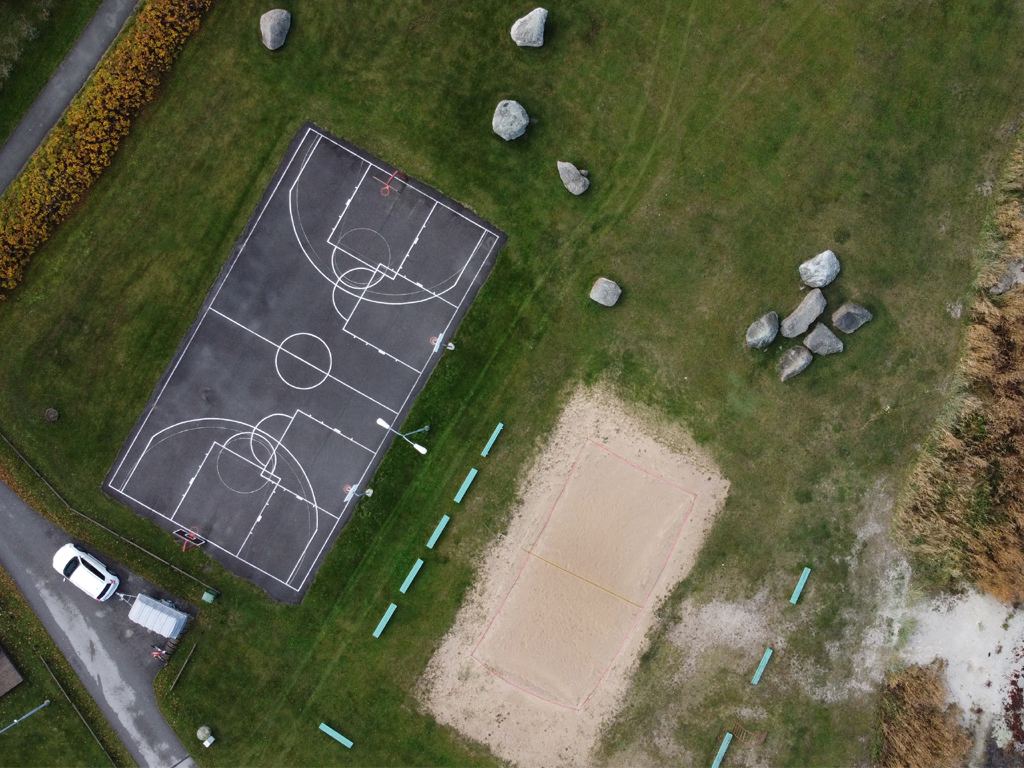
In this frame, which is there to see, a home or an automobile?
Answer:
automobile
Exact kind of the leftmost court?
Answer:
basketball court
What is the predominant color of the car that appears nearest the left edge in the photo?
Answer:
white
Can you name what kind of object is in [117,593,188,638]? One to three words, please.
trailer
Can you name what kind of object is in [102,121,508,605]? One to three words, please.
basketball court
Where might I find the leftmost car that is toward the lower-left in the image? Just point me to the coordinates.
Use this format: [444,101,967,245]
[54,543,121,601]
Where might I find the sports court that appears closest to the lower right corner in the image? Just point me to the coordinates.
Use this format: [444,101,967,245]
[428,393,718,767]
